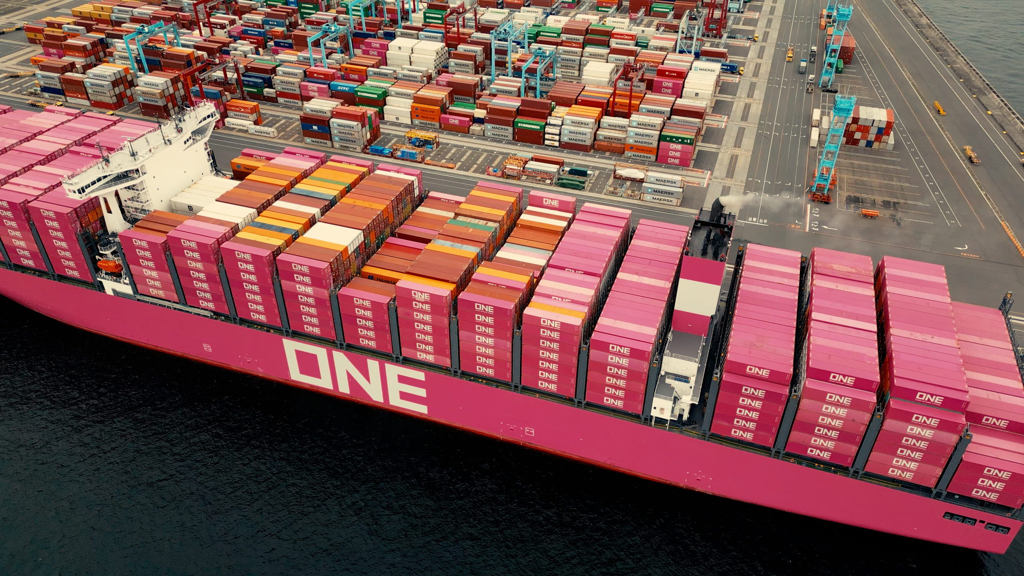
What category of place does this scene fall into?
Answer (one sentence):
This image shows a port.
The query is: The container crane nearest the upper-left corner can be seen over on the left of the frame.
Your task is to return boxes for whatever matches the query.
[122,20,185,81]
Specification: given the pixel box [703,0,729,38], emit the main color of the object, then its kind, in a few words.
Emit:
red container crane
